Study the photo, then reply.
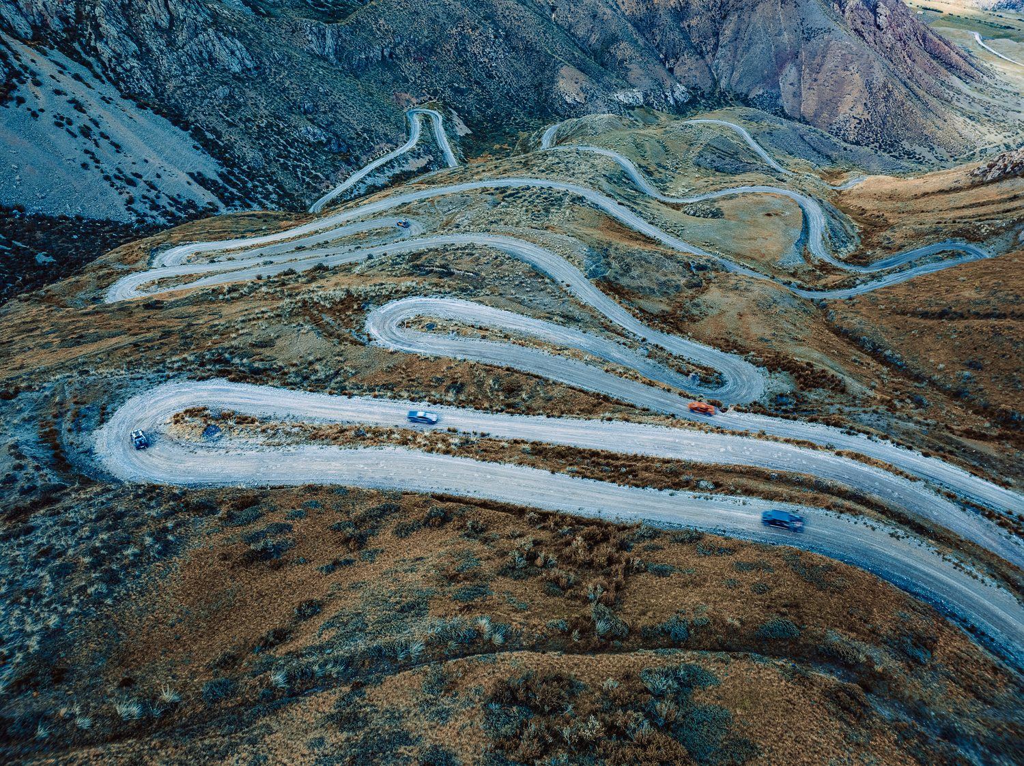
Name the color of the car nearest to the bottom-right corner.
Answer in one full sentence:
From above, the car nearest to the bottom-right corner appears blue.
